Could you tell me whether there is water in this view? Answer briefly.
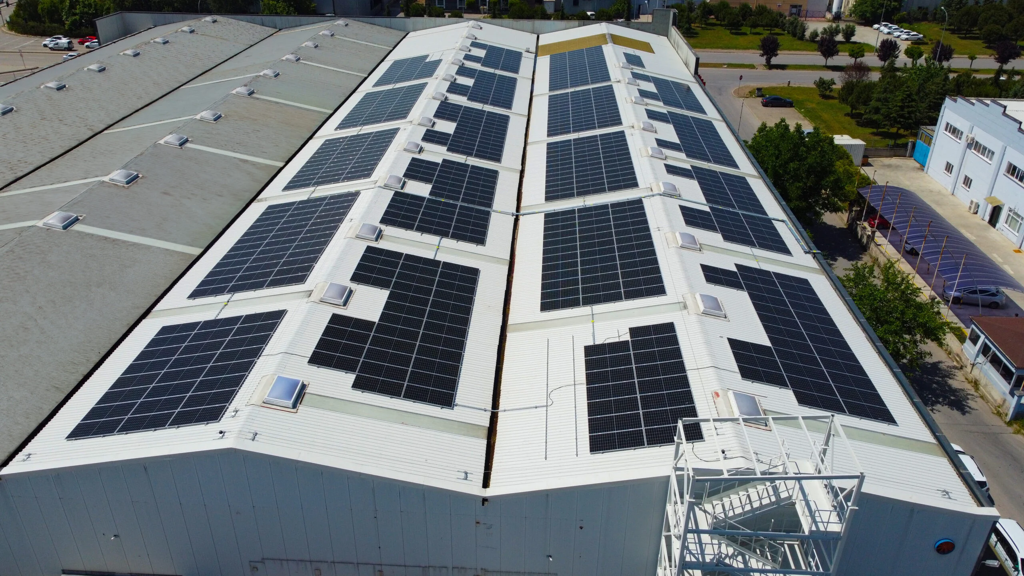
No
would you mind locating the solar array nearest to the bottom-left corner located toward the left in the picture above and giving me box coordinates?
[65,310,286,442]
